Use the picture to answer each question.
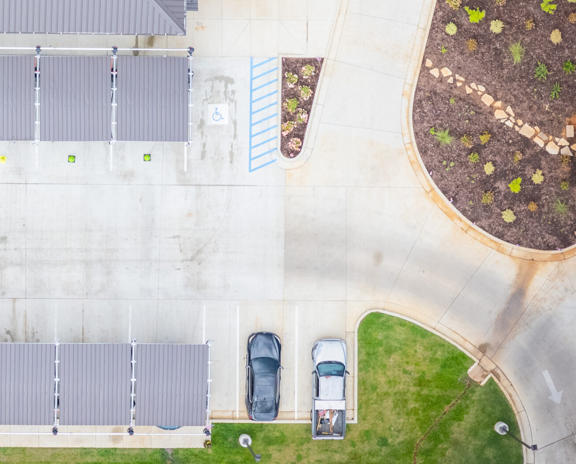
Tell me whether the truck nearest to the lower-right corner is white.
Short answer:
Yes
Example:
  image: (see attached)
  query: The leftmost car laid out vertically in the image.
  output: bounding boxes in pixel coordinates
[243,332,285,421]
